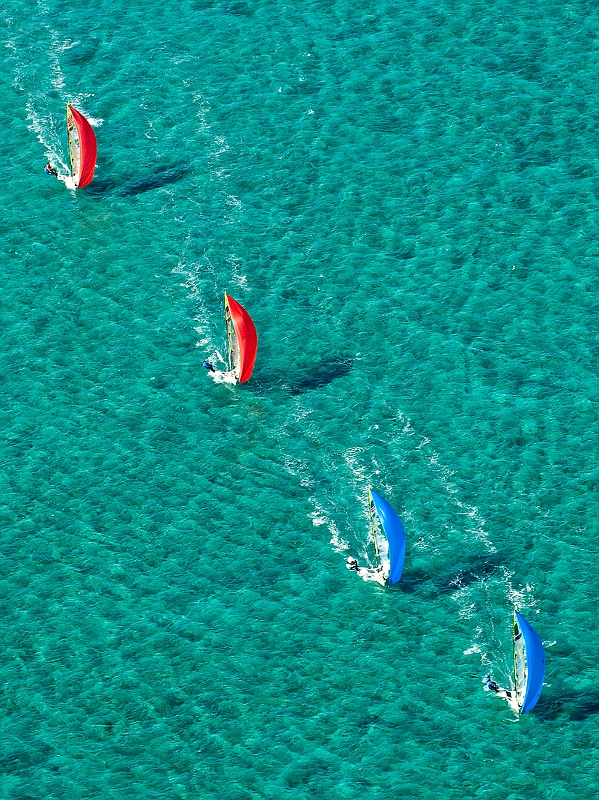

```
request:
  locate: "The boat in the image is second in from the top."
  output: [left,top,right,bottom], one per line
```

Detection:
[211,291,260,385]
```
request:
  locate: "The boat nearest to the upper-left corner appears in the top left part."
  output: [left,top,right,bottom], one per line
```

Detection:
[52,103,97,190]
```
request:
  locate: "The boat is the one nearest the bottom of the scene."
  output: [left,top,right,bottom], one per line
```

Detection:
[490,605,547,716]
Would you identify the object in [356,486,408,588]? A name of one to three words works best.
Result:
boat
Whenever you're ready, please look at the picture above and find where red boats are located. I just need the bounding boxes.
[52,103,97,190]
[211,291,260,385]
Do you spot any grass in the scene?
No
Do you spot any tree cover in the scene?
No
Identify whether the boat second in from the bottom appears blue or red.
blue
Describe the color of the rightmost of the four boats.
blue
